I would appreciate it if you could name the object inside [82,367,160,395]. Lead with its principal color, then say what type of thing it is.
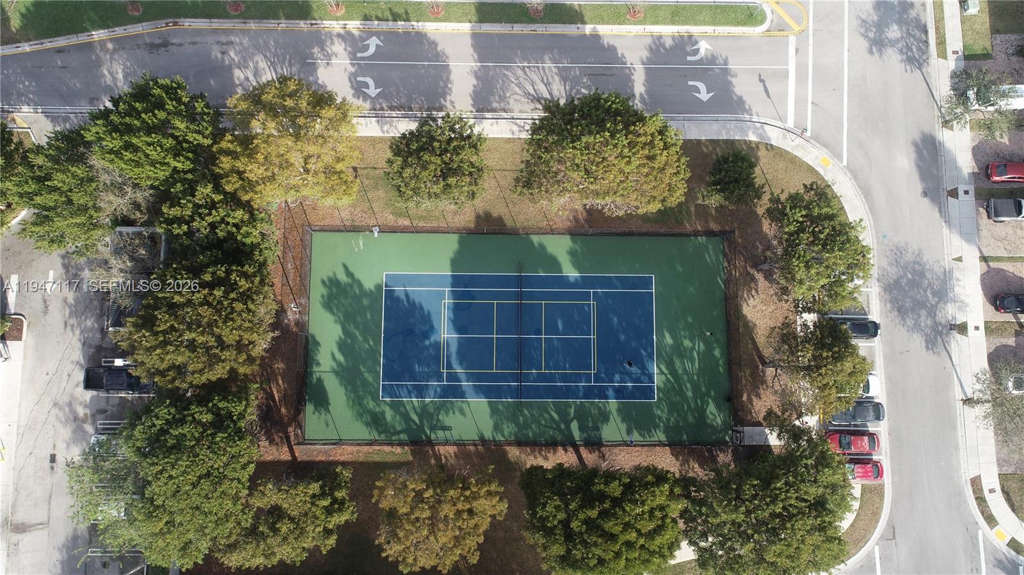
black truck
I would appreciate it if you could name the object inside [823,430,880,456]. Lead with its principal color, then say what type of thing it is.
red car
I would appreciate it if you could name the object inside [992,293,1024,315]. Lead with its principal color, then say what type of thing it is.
black car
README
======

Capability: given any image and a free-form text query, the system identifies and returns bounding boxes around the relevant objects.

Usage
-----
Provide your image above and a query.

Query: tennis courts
[303,232,732,447]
